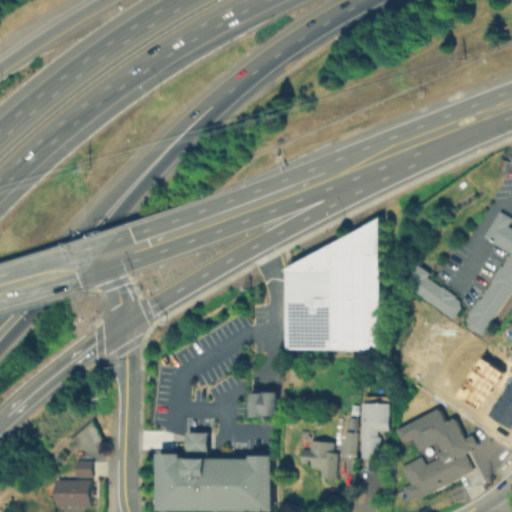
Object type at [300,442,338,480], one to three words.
house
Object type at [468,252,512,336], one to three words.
building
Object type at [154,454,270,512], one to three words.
building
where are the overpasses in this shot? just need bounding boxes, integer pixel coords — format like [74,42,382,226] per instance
[0,218,146,315]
